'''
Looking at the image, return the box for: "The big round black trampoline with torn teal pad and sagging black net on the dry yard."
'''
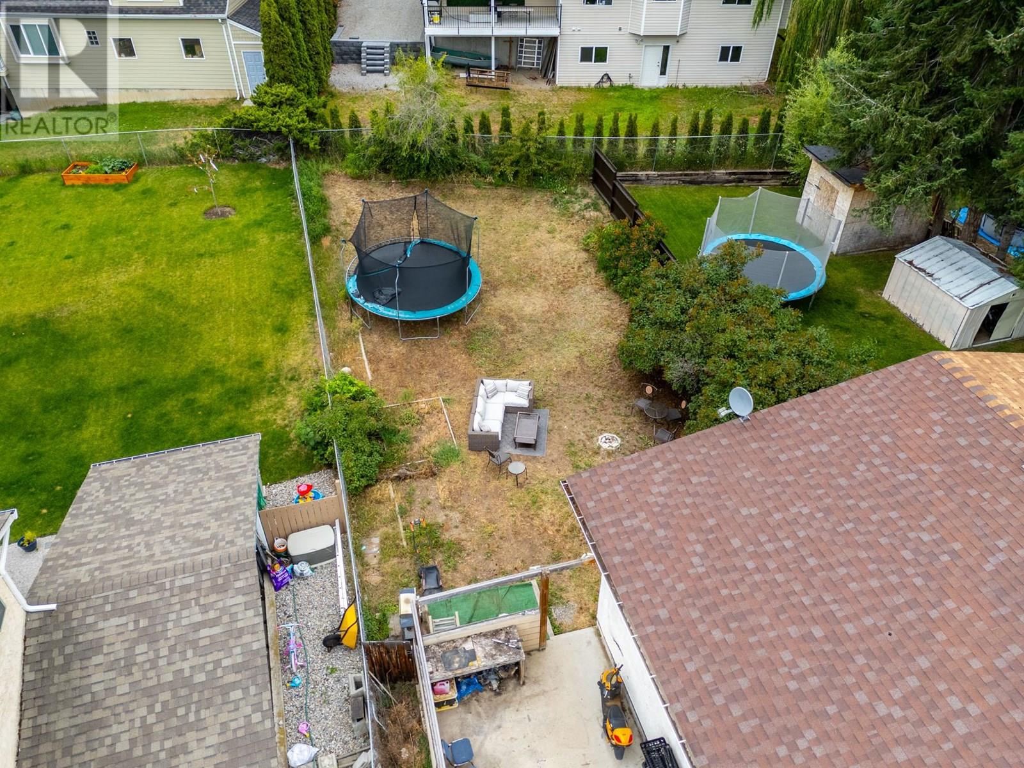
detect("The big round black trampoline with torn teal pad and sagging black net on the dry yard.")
[334,186,485,344]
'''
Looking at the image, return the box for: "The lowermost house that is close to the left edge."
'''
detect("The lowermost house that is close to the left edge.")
[0,431,284,768]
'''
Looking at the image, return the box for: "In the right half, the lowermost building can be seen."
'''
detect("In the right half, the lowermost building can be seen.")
[560,335,1024,768]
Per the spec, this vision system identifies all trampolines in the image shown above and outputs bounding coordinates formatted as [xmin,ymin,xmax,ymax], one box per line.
[334,186,485,344]
[705,187,840,316]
